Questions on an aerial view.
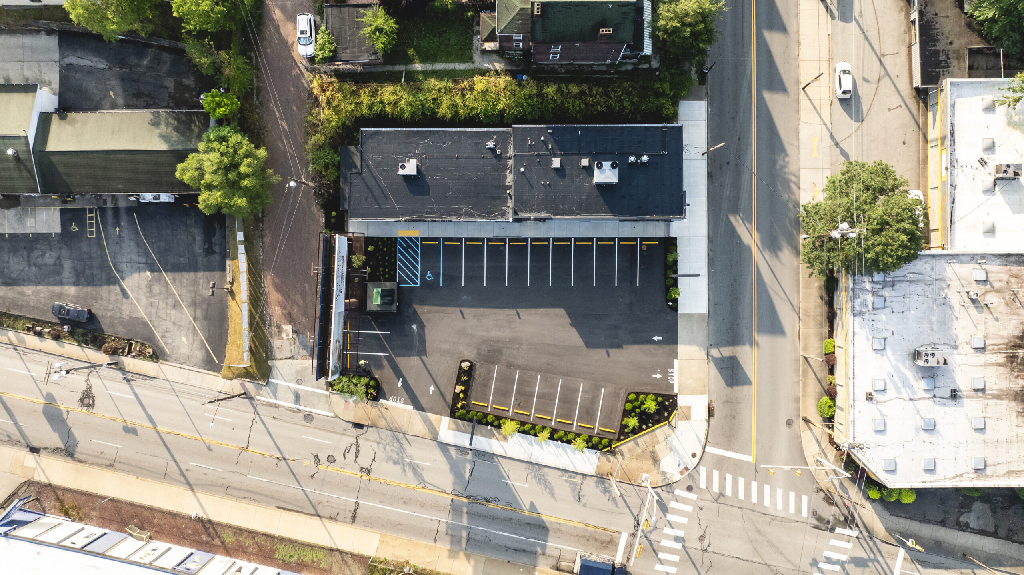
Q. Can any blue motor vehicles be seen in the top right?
No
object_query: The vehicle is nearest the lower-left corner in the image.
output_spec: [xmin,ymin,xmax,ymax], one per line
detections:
[52,302,93,322]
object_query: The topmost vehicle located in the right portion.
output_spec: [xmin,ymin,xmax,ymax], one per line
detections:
[835,62,855,98]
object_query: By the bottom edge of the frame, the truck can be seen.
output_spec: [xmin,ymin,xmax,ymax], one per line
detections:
[573,549,629,575]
